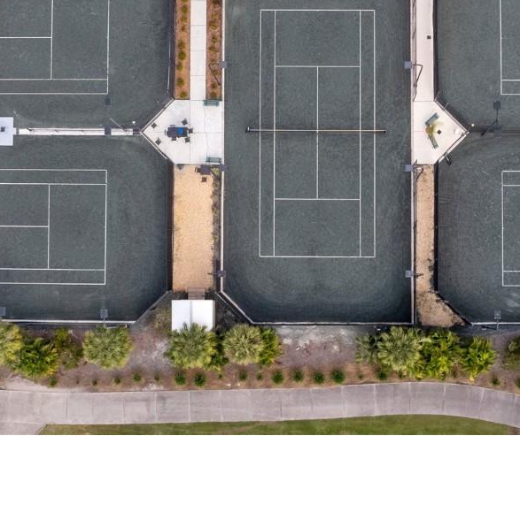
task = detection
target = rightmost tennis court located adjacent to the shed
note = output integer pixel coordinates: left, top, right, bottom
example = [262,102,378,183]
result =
[221,0,414,326]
